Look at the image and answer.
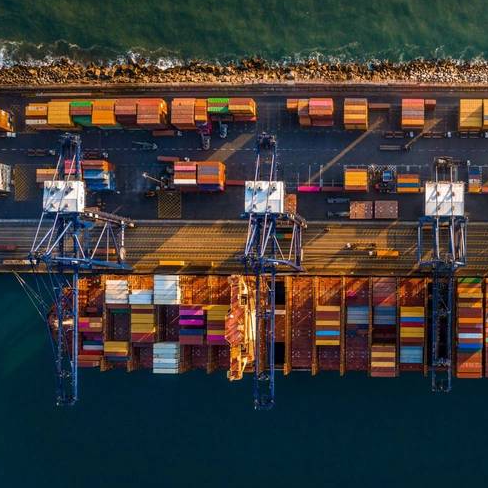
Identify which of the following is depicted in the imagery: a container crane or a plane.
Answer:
container crane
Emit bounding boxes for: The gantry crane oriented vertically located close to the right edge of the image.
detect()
[414,157,471,396]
